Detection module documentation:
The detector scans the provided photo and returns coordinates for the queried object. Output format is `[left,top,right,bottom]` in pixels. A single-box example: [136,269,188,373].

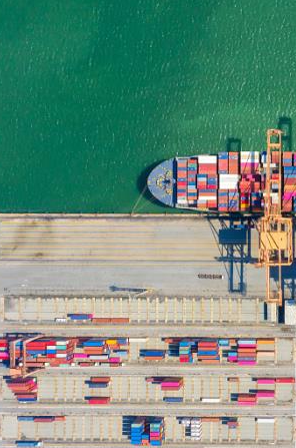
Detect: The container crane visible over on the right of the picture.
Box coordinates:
[258,129,296,306]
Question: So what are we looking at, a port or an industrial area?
port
